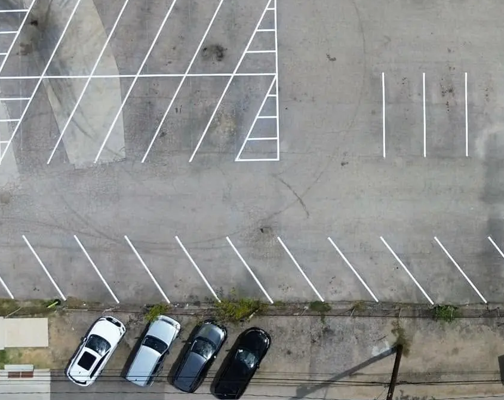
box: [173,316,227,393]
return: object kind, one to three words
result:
car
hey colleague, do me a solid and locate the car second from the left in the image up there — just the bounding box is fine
[125,310,183,388]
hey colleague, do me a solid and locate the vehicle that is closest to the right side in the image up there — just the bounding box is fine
[215,322,273,400]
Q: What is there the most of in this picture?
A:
paved ground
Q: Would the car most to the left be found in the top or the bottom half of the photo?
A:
bottom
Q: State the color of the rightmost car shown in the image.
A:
black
